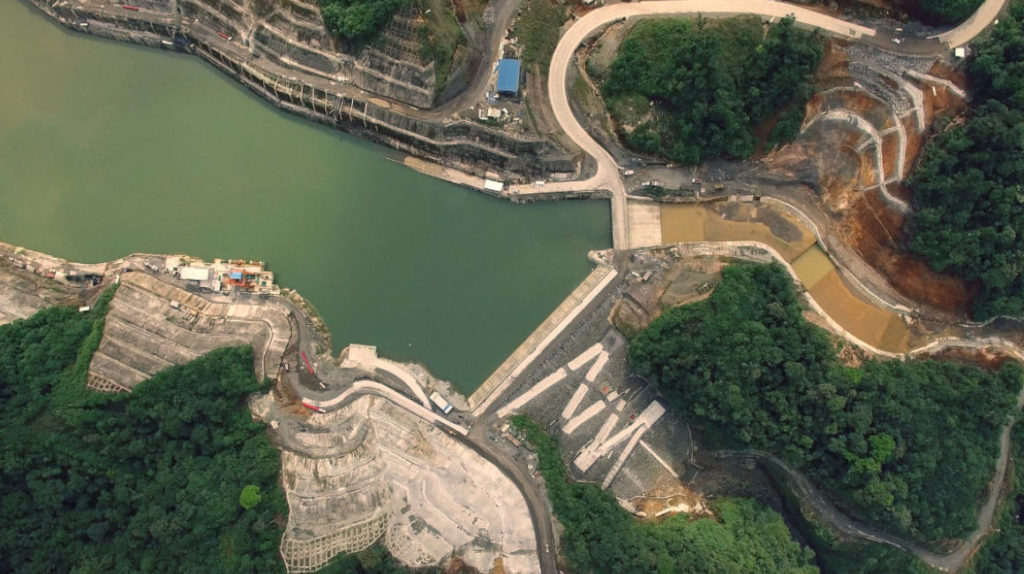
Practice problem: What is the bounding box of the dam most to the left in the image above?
[469,267,691,501]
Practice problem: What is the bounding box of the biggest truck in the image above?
[428,390,452,416]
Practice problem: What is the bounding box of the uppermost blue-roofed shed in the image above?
[496,58,521,97]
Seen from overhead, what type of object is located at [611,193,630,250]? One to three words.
bridge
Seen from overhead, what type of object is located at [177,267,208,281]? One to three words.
shed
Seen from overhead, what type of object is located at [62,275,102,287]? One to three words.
building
